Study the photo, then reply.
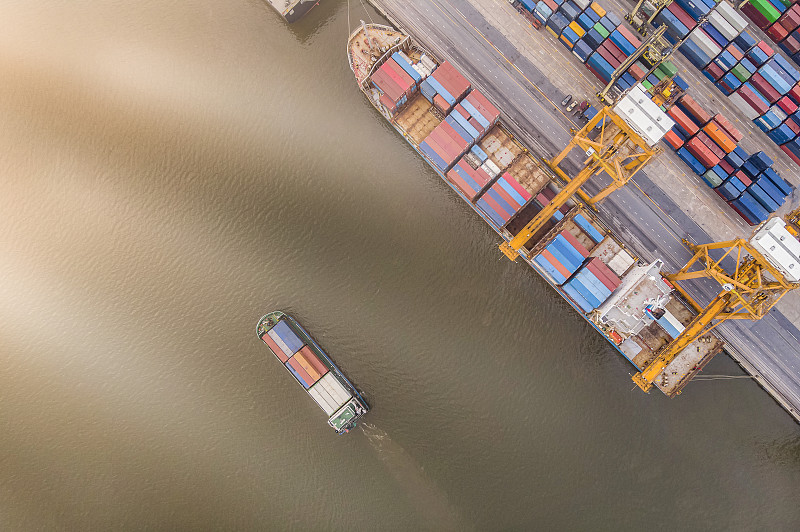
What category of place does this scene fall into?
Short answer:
port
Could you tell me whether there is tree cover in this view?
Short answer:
No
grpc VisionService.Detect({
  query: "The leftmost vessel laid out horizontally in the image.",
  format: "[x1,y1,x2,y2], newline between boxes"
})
[264,0,321,28]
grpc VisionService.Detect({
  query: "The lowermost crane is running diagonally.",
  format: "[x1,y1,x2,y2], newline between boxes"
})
[627,205,800,399]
